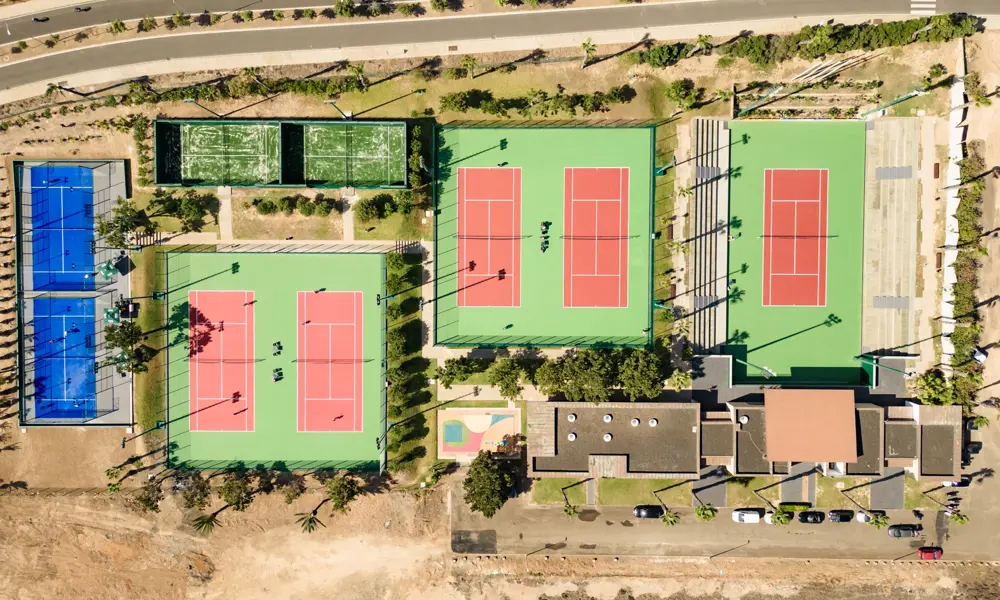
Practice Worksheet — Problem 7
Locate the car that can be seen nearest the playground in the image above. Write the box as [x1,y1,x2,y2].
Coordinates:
[634,504,661,518]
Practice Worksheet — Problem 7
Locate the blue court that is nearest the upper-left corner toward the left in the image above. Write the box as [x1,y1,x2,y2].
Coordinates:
[2,162,95,292]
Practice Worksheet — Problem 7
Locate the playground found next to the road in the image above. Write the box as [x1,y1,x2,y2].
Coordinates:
[438,408,521,458]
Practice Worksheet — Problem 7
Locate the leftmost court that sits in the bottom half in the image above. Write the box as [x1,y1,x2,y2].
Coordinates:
[5,297,97,425]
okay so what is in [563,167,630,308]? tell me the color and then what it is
red tennis court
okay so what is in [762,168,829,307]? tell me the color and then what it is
red tennis court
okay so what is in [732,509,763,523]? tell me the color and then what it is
white vehicle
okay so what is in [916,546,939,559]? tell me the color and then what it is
red vehicle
